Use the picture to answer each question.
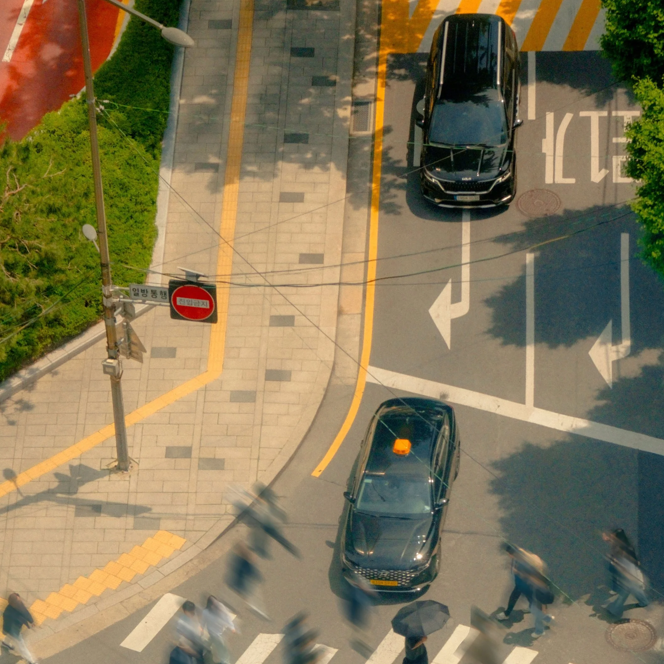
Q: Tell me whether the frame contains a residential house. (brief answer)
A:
No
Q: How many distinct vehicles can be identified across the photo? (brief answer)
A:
two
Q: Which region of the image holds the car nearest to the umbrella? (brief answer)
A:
bottom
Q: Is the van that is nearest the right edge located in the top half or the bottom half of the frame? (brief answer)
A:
top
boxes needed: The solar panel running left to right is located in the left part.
[172,264,207,279]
